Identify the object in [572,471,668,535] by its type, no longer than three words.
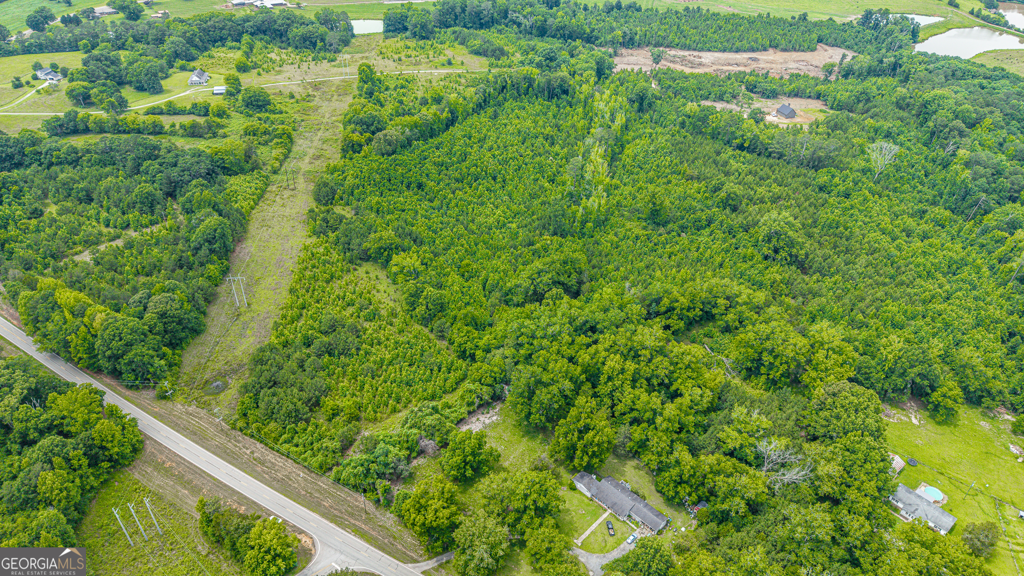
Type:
house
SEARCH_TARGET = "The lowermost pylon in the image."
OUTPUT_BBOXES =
[225,274,247,306]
